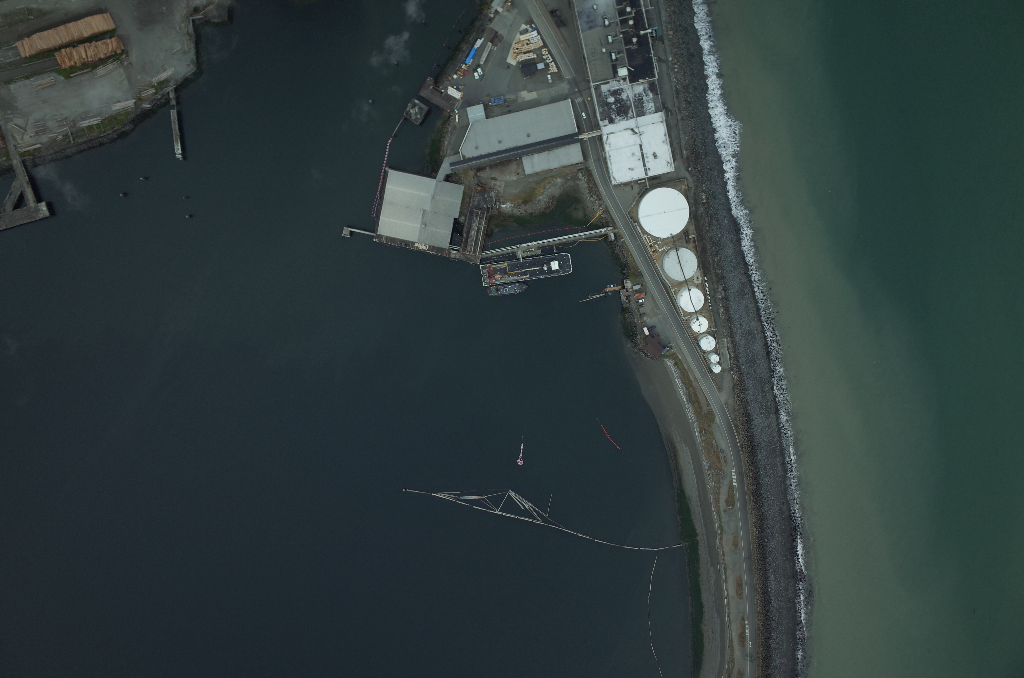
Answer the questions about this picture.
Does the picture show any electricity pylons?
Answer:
No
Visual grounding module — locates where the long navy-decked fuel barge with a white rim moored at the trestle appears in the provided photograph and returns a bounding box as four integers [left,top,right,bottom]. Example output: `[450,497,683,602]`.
[480,253,573,286]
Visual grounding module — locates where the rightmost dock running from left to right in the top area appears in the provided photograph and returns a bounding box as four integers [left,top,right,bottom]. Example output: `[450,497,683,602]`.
[481,225,618,258]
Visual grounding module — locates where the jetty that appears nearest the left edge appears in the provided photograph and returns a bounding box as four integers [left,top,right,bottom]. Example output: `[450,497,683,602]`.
[0,144,55,231]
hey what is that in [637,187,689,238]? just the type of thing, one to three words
storage tank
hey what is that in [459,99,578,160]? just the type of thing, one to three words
building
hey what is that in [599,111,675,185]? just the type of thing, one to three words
building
